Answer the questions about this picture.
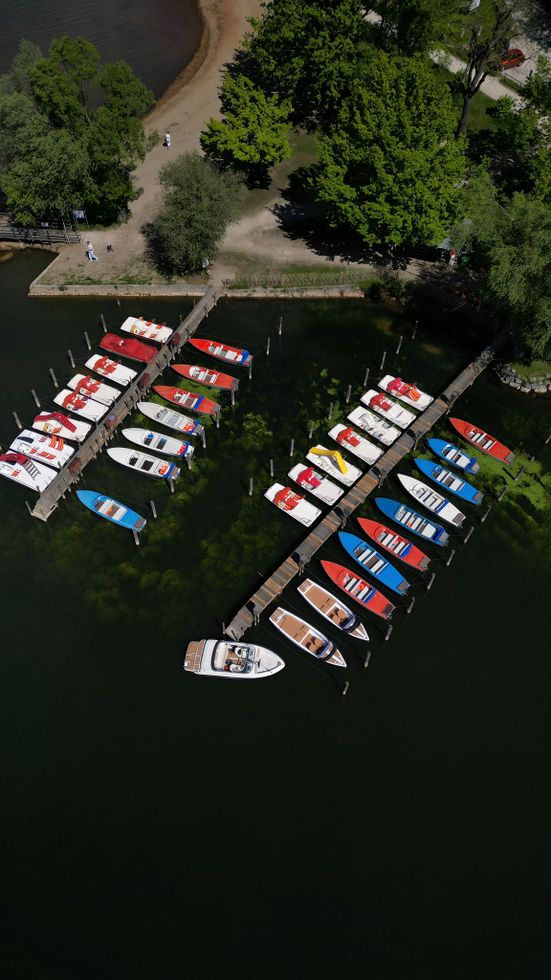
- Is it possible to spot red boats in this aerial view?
Yes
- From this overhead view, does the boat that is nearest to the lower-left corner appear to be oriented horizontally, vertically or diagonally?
horizontally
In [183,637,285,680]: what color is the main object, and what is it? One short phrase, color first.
white boat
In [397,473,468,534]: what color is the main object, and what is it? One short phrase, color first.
white boat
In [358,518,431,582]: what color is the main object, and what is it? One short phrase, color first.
red boat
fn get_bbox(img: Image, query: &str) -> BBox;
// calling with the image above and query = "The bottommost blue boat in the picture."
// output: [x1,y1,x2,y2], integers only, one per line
[339,530,411,606]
